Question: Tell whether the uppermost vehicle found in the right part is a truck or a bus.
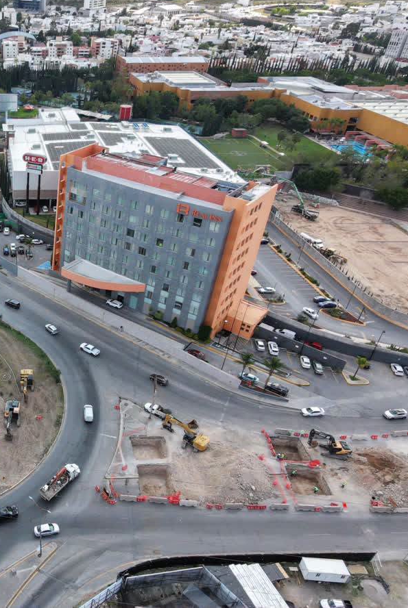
truck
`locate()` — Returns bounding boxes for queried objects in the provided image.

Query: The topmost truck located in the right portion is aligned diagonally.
[241,170,316,218]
